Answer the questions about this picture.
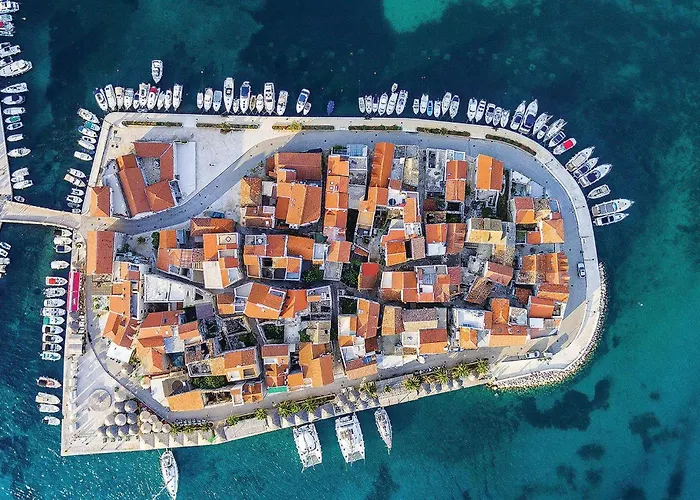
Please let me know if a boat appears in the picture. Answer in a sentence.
Yes, looking at the shot, I can spot a boat.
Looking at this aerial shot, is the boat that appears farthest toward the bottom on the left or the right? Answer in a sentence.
The boat that appears farthest toward the bottom appears in the left half of the scene.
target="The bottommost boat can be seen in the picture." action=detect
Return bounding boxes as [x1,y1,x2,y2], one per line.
[153,448,178,500]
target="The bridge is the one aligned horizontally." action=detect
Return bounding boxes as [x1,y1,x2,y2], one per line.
[0,200,81,232]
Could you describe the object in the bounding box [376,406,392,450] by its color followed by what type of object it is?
white boat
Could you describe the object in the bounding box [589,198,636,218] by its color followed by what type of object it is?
white boat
